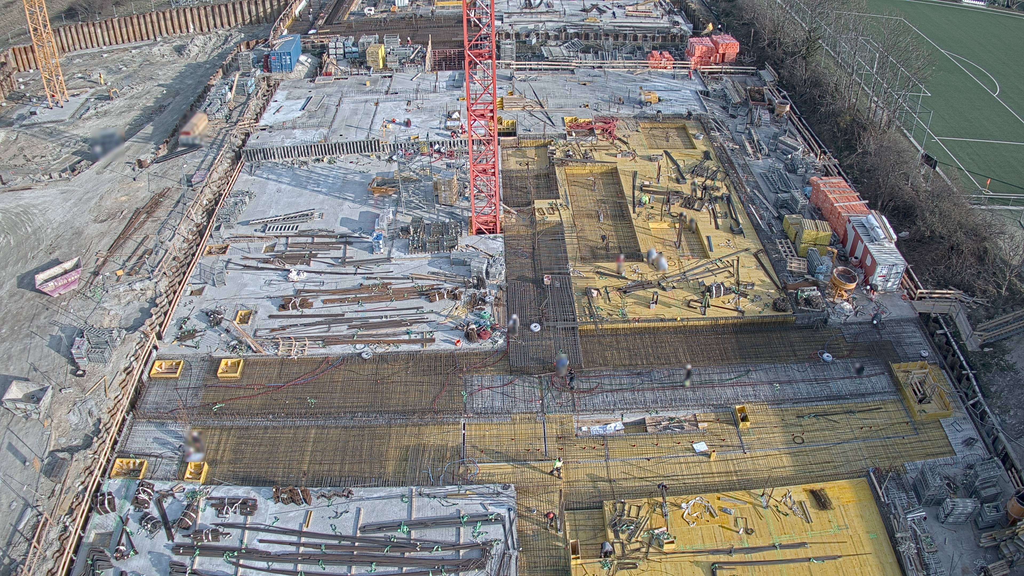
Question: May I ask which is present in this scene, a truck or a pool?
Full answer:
It is a truck that can be seen here.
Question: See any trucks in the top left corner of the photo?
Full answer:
Yes, I can see a truck in the top left corner of the photo.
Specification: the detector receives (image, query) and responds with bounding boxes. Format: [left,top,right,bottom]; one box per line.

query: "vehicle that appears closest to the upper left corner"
[80,122,129,158]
